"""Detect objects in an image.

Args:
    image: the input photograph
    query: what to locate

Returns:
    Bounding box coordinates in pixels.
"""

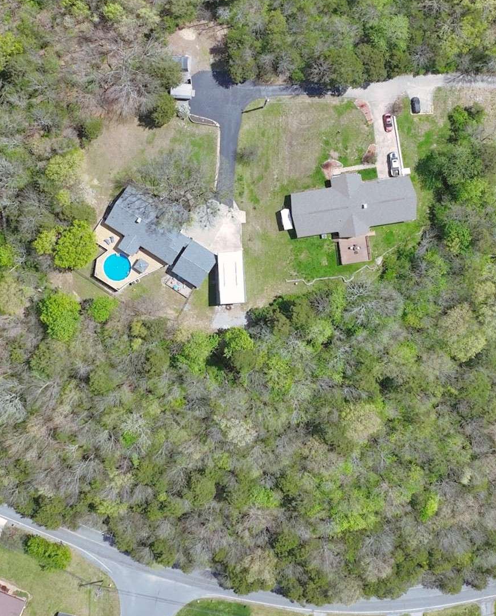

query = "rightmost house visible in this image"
[290,173,416,238]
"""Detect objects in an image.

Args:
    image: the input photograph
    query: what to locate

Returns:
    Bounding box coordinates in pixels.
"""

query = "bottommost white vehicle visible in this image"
[390,151,402,175]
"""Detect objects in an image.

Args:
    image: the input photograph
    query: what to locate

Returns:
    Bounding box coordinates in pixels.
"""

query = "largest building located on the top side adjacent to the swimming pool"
[105,185,189,264]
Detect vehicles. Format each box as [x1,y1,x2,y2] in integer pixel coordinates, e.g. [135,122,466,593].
[411,95,420,114]
[390,151,402,175]
[383,113,395,132]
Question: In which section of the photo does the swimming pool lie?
left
